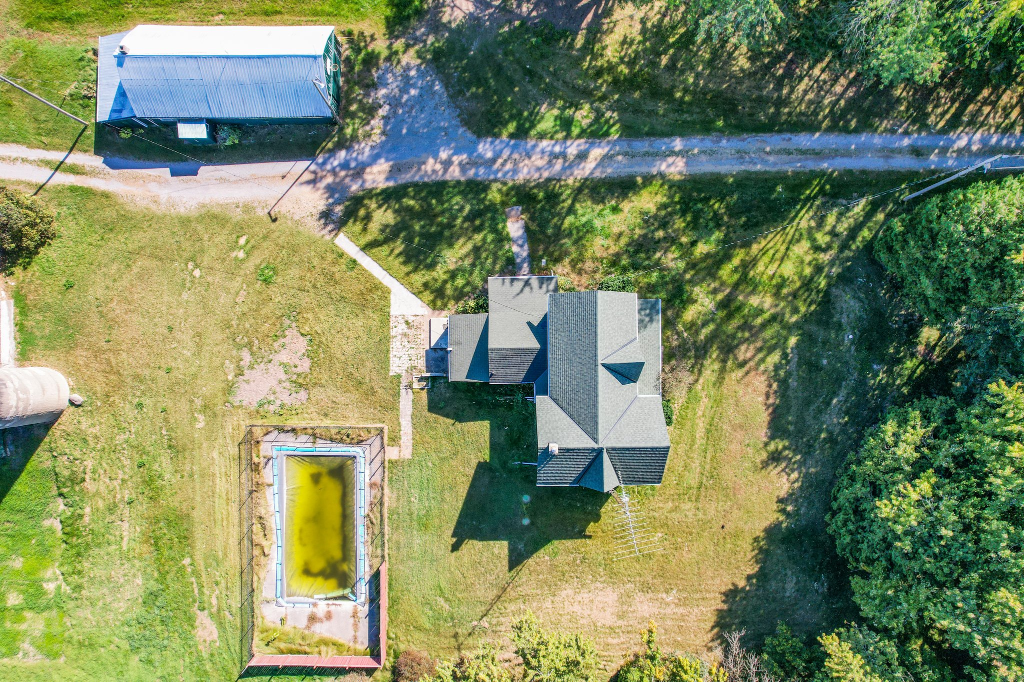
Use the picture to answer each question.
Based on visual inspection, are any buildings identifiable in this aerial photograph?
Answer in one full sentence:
Yes, the image includes a building.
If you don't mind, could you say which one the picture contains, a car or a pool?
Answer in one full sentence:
Visible in the photo is a pool.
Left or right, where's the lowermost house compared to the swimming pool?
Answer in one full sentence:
It is on the right side of the swimming pool that the lowermost house is positioned.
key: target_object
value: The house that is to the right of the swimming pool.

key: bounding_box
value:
[445,275,672,500]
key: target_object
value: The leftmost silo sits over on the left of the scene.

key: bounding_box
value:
[0,367,69,430]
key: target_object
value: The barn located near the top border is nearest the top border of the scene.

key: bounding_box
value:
[97,24,342,148]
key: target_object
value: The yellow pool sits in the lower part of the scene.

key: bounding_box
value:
[270,444,368,607]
